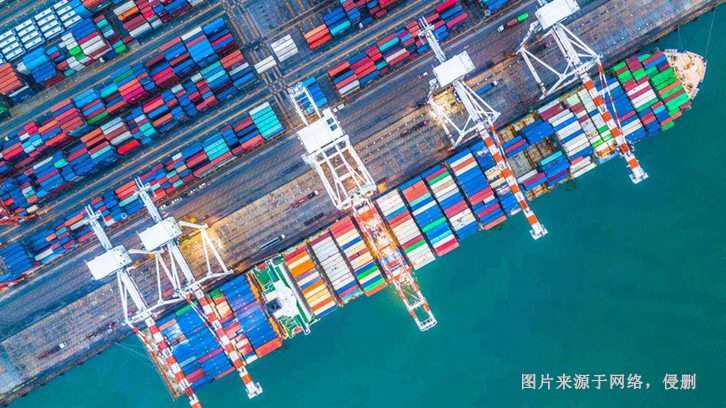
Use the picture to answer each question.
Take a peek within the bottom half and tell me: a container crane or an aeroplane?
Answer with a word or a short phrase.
container crane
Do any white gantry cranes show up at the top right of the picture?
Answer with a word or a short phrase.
Yes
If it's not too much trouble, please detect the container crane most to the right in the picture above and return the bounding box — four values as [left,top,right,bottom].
[507,0,647,184]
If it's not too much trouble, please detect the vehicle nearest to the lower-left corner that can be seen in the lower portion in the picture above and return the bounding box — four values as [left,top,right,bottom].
[41,341,67,358]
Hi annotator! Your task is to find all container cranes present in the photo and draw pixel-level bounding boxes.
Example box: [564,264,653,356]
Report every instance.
[79,202,201,408]
[507,0,647,184]
[131,174,262,397]
[286,79,439,335]
[418,15,548,238]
